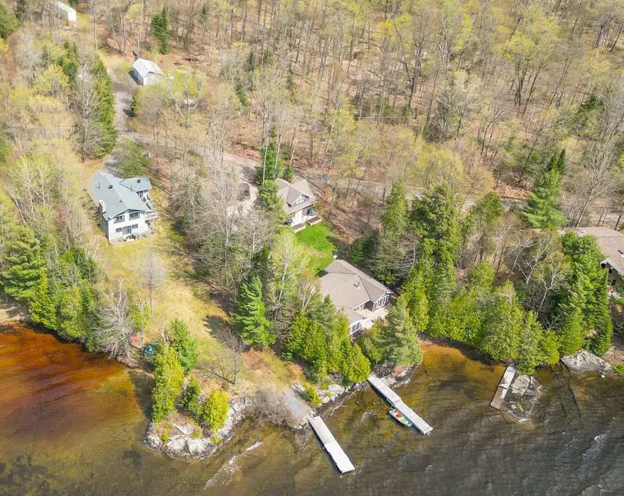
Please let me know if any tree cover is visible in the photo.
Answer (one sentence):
Yes, tree cover shows up in the scene.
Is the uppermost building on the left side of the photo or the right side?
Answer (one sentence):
You can find the uppermost building on the left side of the picture.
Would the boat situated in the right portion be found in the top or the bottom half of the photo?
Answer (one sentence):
The bottom half of the photo is where the boat situated in the right portion is.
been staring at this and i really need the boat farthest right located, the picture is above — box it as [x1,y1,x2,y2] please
[388,409,416,431]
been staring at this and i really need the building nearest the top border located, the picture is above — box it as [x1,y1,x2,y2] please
[133,58,162,86]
